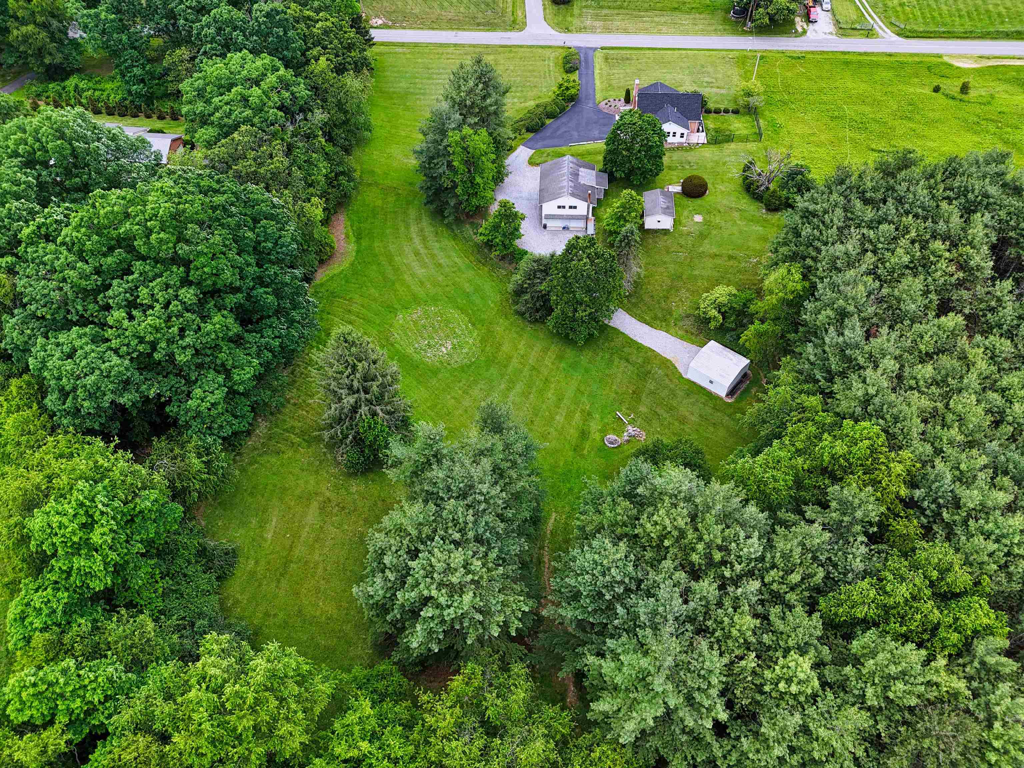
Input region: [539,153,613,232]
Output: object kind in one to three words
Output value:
building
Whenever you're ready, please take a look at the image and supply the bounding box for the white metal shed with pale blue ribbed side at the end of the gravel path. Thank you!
[686,339,751,397]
